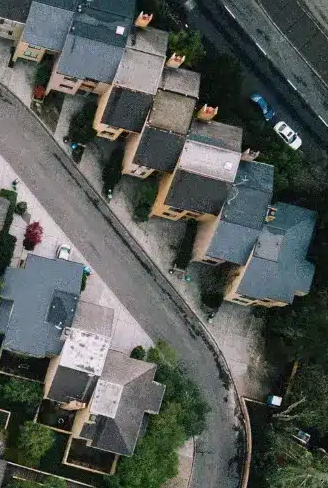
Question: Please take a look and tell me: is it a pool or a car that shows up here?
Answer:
car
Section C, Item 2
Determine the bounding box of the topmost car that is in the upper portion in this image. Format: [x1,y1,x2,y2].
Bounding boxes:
[249,90,277,125]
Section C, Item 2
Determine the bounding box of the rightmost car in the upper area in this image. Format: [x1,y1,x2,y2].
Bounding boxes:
[271,119,303,152]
